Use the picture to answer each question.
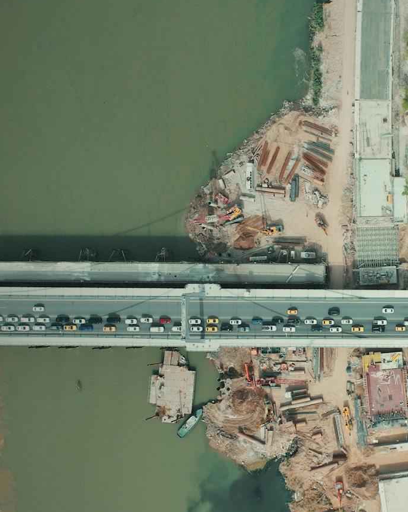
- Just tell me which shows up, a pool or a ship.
ship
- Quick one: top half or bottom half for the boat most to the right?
bottom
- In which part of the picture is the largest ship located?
bottom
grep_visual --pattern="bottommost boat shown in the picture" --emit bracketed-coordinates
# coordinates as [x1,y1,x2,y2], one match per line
[176,411,201,438]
